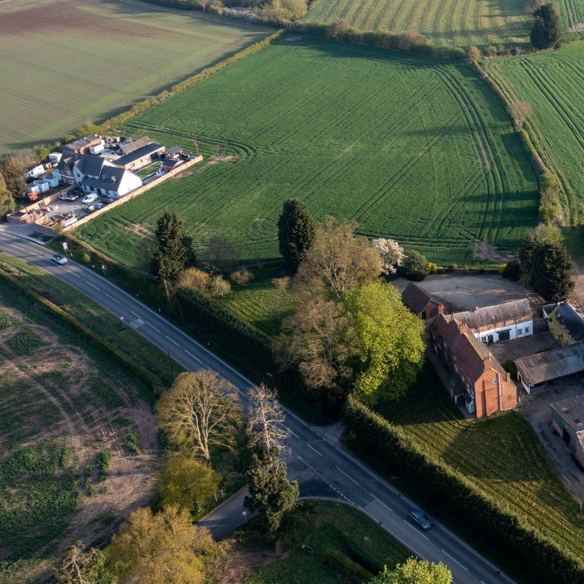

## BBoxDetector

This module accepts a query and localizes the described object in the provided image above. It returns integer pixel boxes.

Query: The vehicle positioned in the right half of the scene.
[408,506,433,530]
